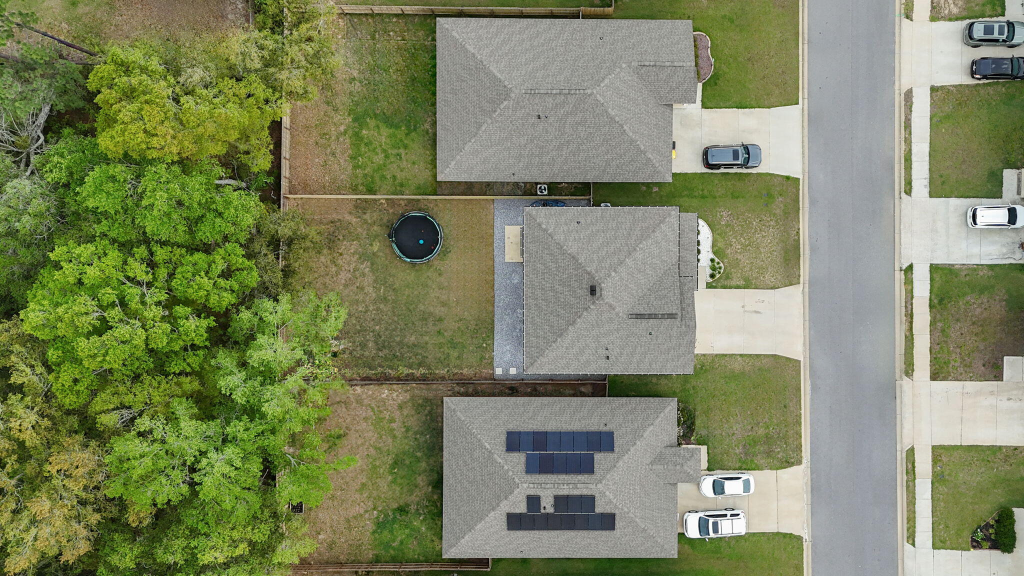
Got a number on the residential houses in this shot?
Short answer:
3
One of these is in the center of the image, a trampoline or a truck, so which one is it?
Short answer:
trampoline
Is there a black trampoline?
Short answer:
Yes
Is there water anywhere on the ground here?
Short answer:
No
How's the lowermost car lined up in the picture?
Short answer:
horizontally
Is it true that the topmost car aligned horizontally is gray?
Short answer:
Yes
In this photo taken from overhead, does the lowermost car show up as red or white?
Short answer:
white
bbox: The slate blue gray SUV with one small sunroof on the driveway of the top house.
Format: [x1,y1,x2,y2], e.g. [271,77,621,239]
[701,142,761,172]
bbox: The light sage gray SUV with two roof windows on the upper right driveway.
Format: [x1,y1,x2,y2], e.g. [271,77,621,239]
[961,18,1024,50]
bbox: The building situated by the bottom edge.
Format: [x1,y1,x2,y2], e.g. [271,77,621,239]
[442,396,702,559]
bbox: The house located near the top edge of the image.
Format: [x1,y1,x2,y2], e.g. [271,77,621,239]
[436,17,697,182]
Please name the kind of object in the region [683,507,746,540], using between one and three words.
car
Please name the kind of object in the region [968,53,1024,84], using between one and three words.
car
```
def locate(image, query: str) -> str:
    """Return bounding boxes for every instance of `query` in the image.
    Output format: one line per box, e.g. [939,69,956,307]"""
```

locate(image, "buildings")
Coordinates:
[522,205,700,375]
[442,396,702,559]
[436,17,697,182]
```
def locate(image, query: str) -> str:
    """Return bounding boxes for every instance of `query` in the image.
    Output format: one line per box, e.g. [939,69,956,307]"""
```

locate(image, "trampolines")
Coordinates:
[385,210,443,263]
